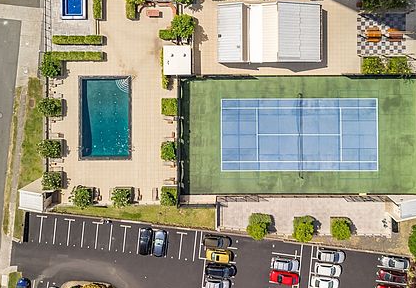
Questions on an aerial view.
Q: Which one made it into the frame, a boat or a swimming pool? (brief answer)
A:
swimming pool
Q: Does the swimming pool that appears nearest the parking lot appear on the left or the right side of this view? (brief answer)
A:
left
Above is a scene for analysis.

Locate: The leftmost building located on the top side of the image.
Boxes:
[163,46,193,75]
